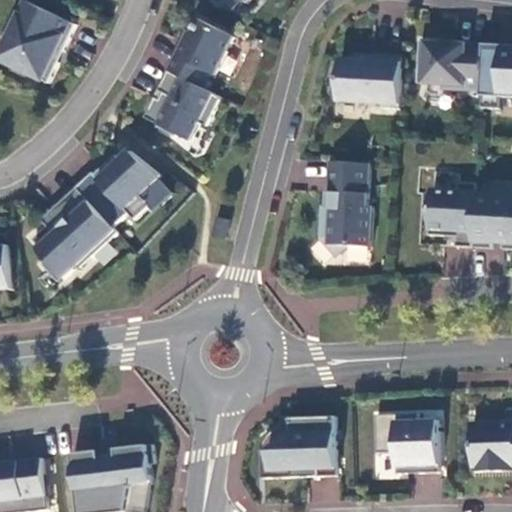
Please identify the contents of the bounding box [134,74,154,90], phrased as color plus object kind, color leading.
gray car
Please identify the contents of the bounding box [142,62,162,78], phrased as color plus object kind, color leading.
white car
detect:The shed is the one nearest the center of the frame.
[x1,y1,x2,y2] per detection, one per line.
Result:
[215,209,236,236]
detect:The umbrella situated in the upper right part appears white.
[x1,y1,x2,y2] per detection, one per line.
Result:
[440,96,455,111]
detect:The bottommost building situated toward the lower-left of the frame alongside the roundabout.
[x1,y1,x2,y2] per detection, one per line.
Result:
[63,444,161,512]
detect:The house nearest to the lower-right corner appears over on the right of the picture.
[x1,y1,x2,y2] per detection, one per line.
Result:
[464,414,512,472]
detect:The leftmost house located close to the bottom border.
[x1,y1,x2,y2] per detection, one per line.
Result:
[0,456,52,512]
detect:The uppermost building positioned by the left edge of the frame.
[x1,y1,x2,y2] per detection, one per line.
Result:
[0,2,73,84]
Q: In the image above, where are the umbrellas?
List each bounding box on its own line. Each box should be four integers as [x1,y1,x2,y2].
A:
[440,96,455,111]
[229,48,240,58]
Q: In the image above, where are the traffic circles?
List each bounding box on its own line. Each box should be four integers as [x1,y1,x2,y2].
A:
[136,268,314,445]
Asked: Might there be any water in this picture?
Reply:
No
